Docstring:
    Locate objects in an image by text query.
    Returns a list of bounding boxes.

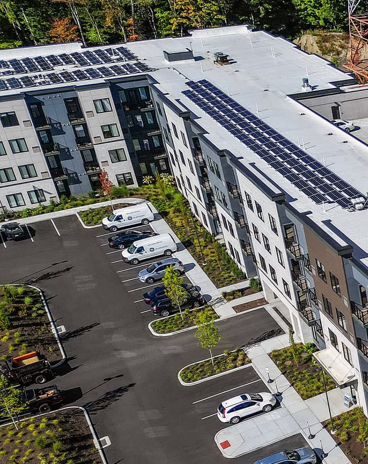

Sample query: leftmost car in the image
[0,221,24,241]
